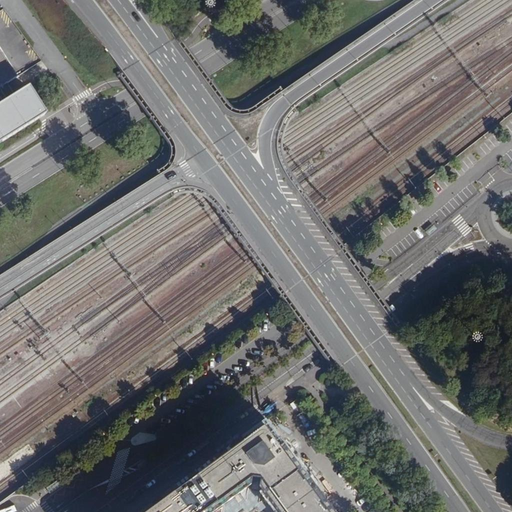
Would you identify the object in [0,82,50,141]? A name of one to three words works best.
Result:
building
